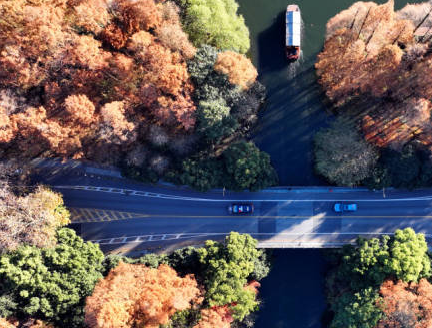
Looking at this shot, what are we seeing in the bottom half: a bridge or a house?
bridge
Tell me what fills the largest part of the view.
trees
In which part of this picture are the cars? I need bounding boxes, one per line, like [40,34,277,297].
[334,201,357,213]
[229,203,254,215]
